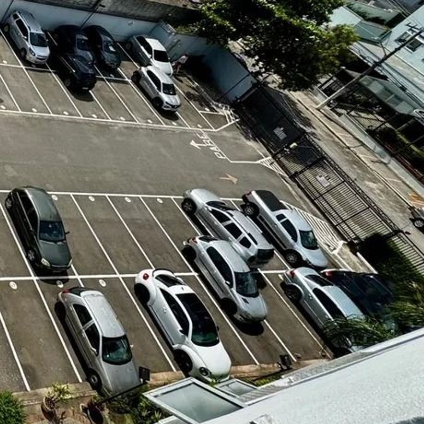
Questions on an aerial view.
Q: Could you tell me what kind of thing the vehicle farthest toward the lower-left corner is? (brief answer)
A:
automobile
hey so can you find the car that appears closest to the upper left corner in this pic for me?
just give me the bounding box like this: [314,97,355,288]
[6,14,50,61]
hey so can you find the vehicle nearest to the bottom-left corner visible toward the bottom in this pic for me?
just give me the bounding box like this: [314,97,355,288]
[56,290,138,399]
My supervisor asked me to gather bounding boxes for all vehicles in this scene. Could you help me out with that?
[131,36,177,78]
[188,191,270,263]
[183,240,263,323]
[136,281,227,381]
[235,192,316,268]
[323,271,411,335]
[7,189,70,271]
[6,14,50,61]
[56,290,138,399]
[54,43,103,94]
[283,268,368,353]
[82,29,120,67]
[51,22,96,62]
[134,68,182,112]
